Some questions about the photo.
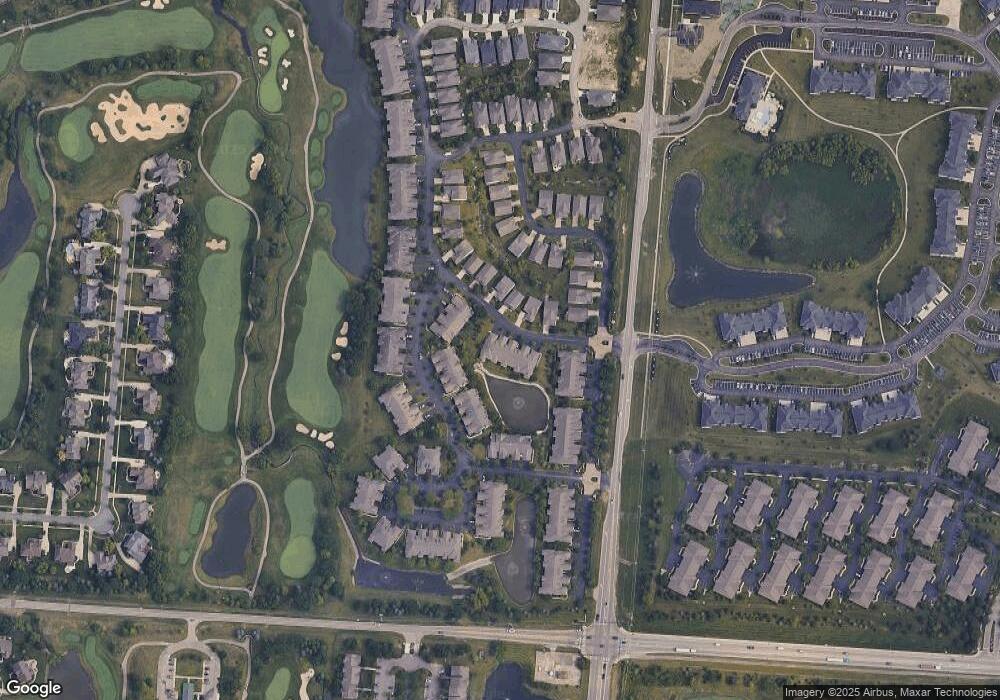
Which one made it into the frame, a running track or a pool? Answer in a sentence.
The one in the frame is a pool.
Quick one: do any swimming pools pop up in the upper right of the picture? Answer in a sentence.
Yes, I can see a swimming pool in the upper right of the picture.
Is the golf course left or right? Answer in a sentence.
You can find the golf course on the left side of the picture.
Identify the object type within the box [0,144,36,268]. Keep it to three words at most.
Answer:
pond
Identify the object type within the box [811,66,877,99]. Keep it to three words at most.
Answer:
building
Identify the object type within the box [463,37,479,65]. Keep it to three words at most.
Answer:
house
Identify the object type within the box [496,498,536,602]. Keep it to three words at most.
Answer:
pond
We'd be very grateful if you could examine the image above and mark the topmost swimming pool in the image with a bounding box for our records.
[745,92,782,136]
